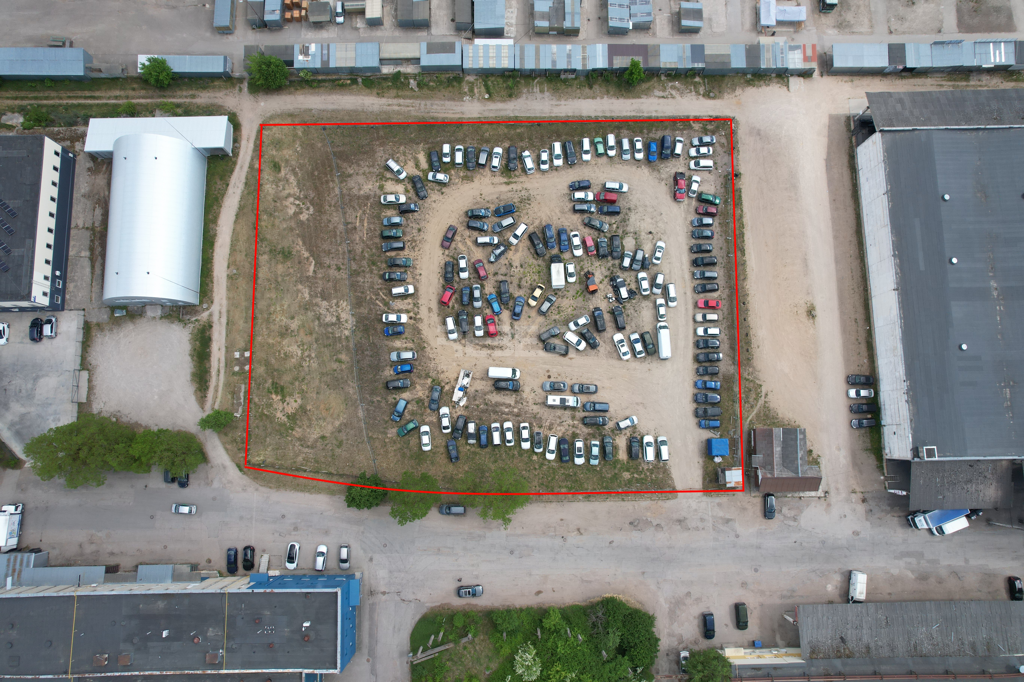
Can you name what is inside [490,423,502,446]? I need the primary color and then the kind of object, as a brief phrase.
white vehicle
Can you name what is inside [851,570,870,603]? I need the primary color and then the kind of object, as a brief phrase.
white vehicle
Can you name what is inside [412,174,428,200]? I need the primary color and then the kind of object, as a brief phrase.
gray car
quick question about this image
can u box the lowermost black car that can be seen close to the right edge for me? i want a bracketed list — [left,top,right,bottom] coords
[1008,577,1022,601]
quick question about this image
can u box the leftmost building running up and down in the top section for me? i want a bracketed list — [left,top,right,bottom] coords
[0,134,76,310]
